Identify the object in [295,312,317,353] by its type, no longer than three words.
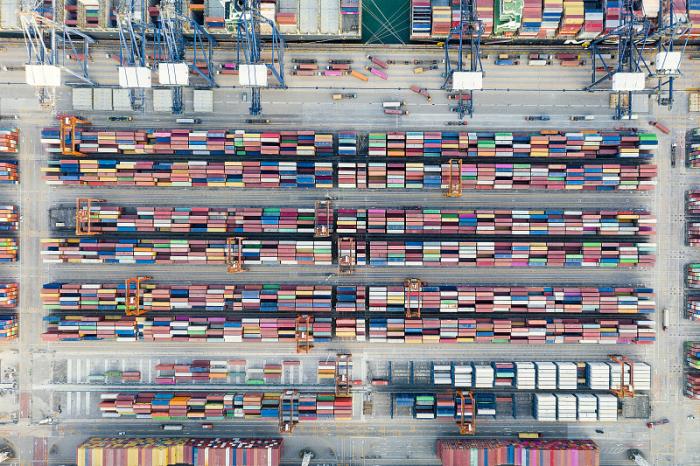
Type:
container crane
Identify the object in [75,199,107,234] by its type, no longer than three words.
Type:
container crane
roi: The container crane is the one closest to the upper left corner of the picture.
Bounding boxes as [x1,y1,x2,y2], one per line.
[18,0,101,112]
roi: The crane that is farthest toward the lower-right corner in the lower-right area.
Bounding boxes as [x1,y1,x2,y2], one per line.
[600,351,632,396]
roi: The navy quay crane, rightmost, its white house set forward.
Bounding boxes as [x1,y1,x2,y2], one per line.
[624,0,698,118]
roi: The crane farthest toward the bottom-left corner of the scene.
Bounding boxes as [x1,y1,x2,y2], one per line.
[125,275,154,316]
